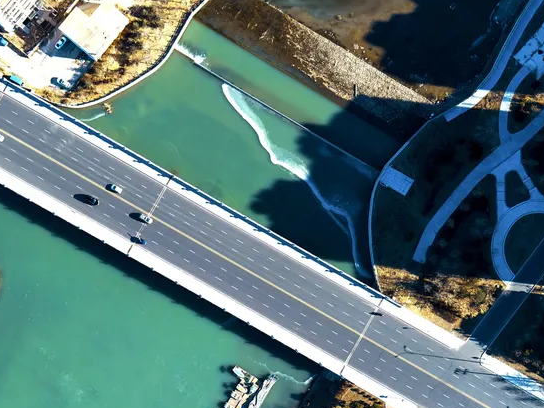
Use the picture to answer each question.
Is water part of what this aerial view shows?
Yes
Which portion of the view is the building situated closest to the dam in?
top left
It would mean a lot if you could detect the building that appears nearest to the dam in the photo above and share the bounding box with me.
[59,2,129,67]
